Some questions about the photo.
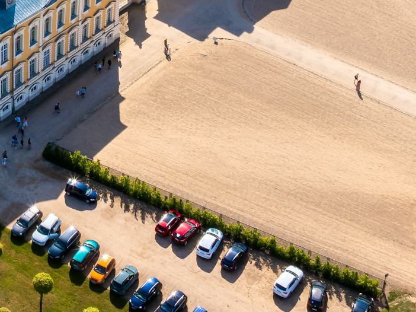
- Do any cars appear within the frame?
Yes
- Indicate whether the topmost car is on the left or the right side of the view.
left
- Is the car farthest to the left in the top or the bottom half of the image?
bottom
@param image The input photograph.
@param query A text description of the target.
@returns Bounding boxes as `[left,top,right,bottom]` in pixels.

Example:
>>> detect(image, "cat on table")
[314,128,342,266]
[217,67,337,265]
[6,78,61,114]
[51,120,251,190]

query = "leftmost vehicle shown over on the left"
[11,205,43,238]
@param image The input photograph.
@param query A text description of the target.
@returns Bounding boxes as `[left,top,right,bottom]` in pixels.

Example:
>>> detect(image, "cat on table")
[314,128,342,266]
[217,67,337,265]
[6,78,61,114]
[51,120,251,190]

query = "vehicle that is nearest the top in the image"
[63,177,100,205]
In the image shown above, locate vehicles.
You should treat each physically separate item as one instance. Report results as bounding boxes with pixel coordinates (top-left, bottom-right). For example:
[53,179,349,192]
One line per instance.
[158,293,190,312]
[11,205,43,238]
[70,243,100,272]
[270,269,303,303]
[194,231,224,262]
[306,284,327,312]
[171,222,200,249]
[152,211,181,241]
[191,300,211,312]
[88,256,119,287]
[49,230,81,262]
[63,177,100,205]
[110,268,140,299]
[129,279,165,312]
[32,216,60,249]
[220,246,248,275]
